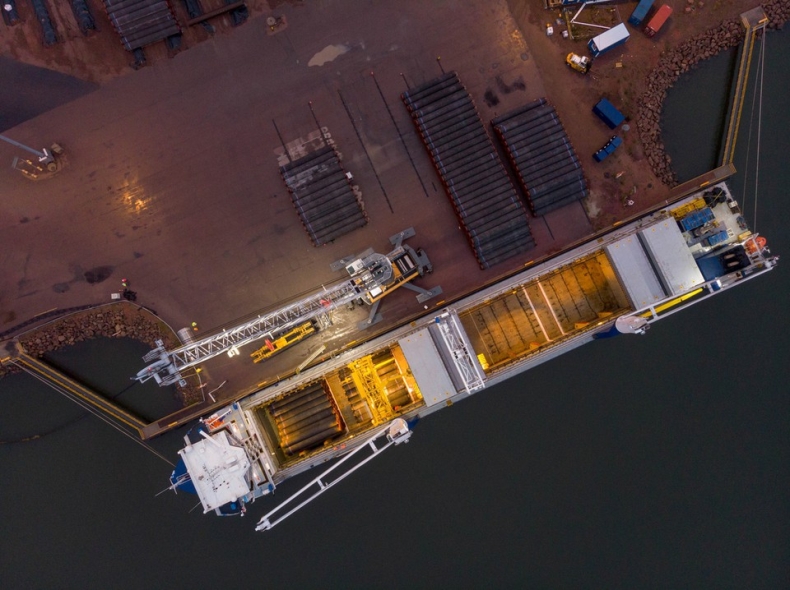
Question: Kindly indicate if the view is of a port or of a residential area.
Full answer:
It's a port.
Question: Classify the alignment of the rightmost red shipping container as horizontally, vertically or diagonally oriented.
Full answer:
What the image shows is the rightmost red shipping container lying diagonally.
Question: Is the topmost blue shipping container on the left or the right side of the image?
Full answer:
The topmost blue shipping container is on the right side of the image.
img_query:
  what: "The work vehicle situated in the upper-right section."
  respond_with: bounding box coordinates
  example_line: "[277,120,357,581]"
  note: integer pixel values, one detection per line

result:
[565,53,592,76]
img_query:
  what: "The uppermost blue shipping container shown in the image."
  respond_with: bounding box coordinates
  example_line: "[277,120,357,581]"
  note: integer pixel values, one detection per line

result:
[626,0,653,29]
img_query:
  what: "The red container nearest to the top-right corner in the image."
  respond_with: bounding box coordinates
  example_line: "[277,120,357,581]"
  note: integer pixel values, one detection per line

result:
[643,4,671,37]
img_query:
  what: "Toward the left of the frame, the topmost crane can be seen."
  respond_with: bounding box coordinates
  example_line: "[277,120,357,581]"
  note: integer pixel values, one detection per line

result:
[134,228,442,389]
